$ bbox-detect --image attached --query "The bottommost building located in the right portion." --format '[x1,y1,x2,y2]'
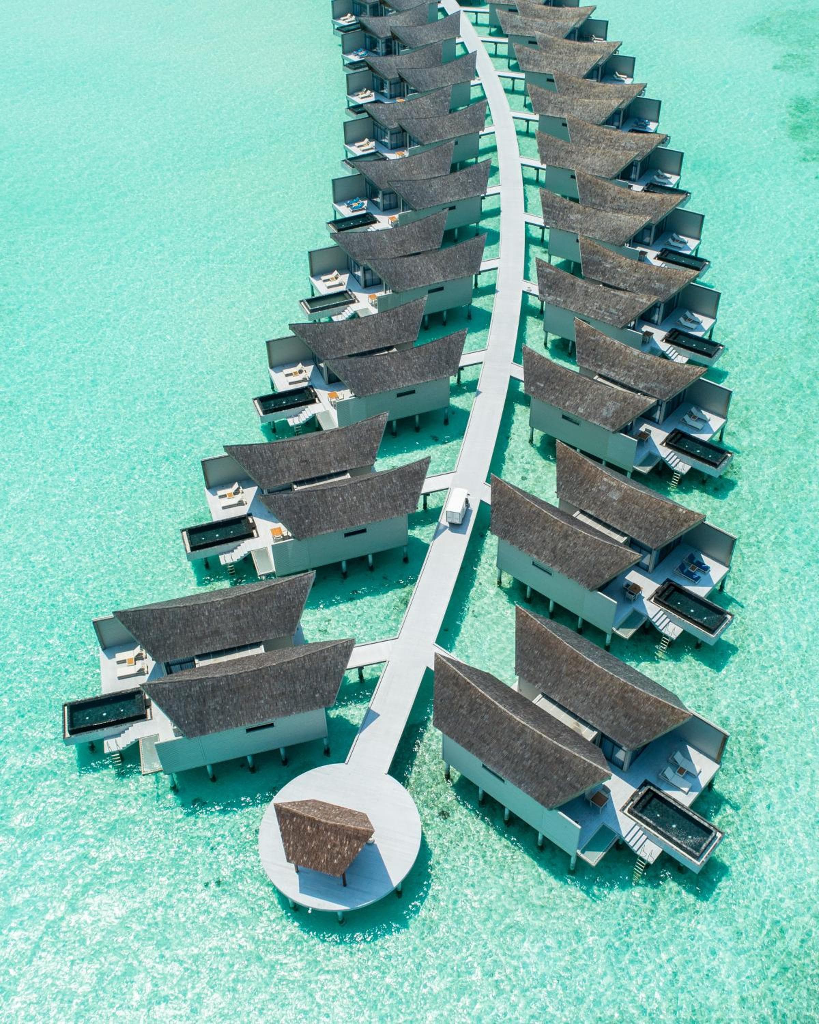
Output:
[431,605,730,883]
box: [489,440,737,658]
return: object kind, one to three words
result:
house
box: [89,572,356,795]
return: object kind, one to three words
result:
house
